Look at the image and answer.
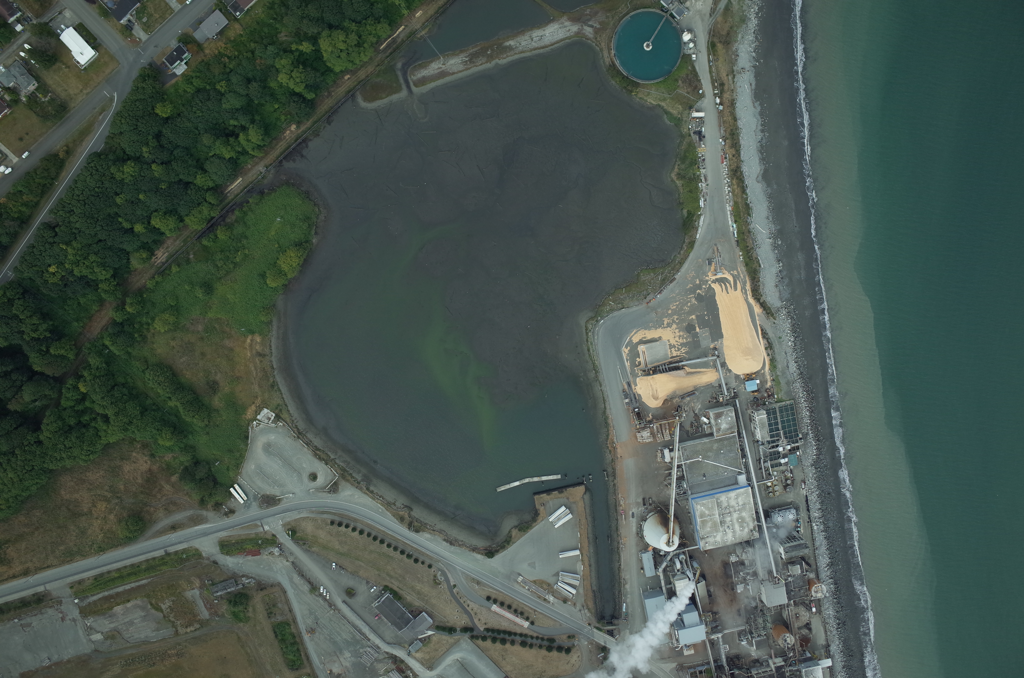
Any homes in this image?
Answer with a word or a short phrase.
Yes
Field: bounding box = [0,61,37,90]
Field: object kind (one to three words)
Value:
house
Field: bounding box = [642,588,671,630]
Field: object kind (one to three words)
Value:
building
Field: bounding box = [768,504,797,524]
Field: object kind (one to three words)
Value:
cooling tower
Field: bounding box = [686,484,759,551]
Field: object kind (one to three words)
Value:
building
